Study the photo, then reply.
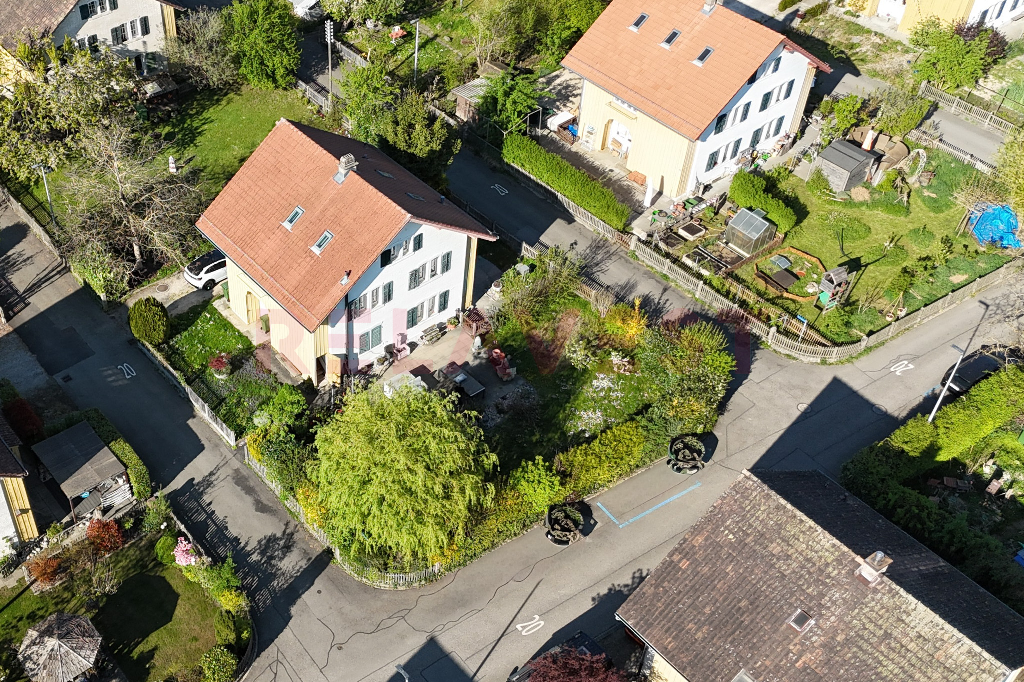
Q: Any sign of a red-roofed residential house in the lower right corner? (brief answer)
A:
No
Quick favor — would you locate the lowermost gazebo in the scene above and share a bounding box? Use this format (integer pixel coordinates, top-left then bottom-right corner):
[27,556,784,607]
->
[1,607,108,682]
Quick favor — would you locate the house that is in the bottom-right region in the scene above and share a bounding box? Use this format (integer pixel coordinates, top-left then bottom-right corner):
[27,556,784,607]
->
[617,465,1024,682]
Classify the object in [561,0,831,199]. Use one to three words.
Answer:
house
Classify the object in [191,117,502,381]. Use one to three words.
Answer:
house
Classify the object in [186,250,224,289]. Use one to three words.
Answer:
car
